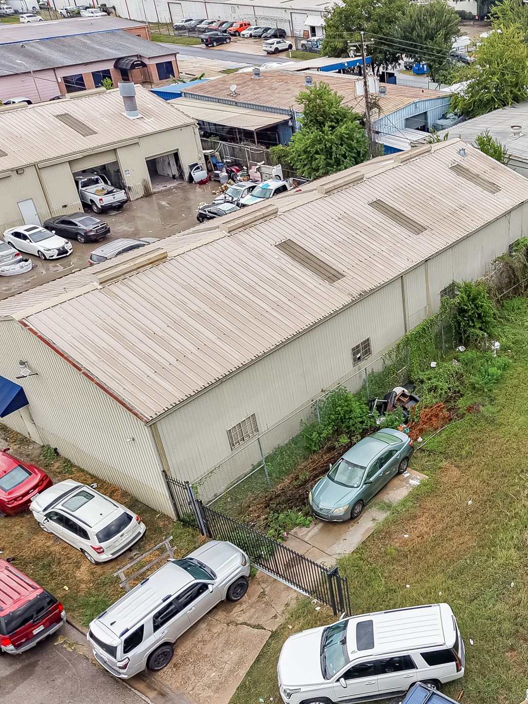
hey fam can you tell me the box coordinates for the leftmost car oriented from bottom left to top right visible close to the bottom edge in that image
[81,543,250,682]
